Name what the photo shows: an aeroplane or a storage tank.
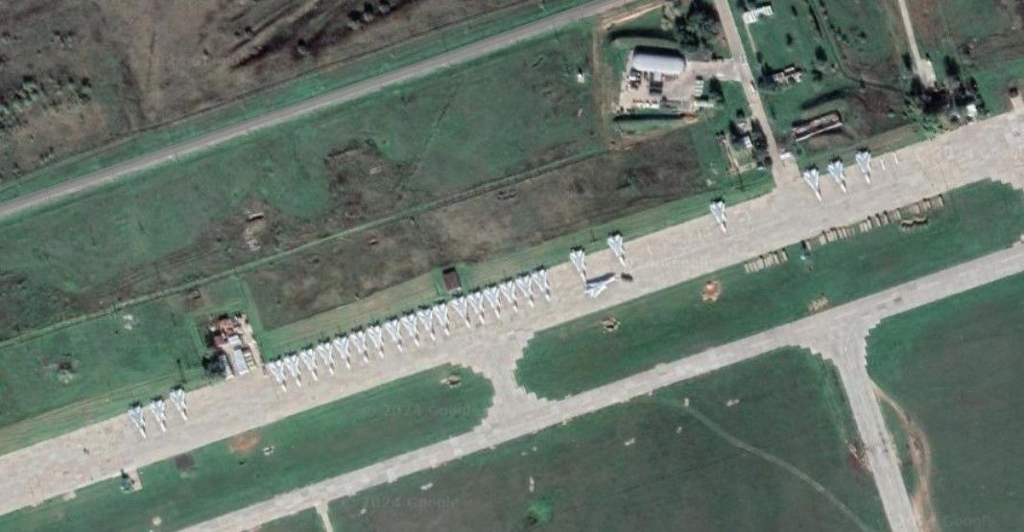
aeroplane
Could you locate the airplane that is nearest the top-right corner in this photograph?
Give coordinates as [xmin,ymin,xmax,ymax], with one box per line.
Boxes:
[856,152,871,184]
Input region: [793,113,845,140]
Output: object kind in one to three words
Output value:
shed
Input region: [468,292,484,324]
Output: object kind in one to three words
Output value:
airplane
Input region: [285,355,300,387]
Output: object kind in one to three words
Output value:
airplane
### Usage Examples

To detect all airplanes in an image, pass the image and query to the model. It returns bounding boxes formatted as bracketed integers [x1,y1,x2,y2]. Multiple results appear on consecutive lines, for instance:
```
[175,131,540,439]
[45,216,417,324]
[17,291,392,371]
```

[385,320,401,351]
[335,337,350,369]
[517,275,533,307]
[533,270,550,303]
[269,360,285,391]
[572,251,587,283]
[586,278,616,299]
[419,309,435,341]
[129,406,146,439]
[316,343,333,374]
[856,152,871,184]
[468,292,484,324]
[402,314,418,346]
[485,287,500,318]
[805,169,821,202]
[300,349,317,380]
[829,161,845,193]
[285,355,300,387]
[608,235,626,268]
[501,281,517,313]
[172,389,187,422]
[368,326,383,357]
[433,305,449,338]
[150,400,165,431]
[711,201,726,232]
[452,297,470,328]
[350,331,367,363]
